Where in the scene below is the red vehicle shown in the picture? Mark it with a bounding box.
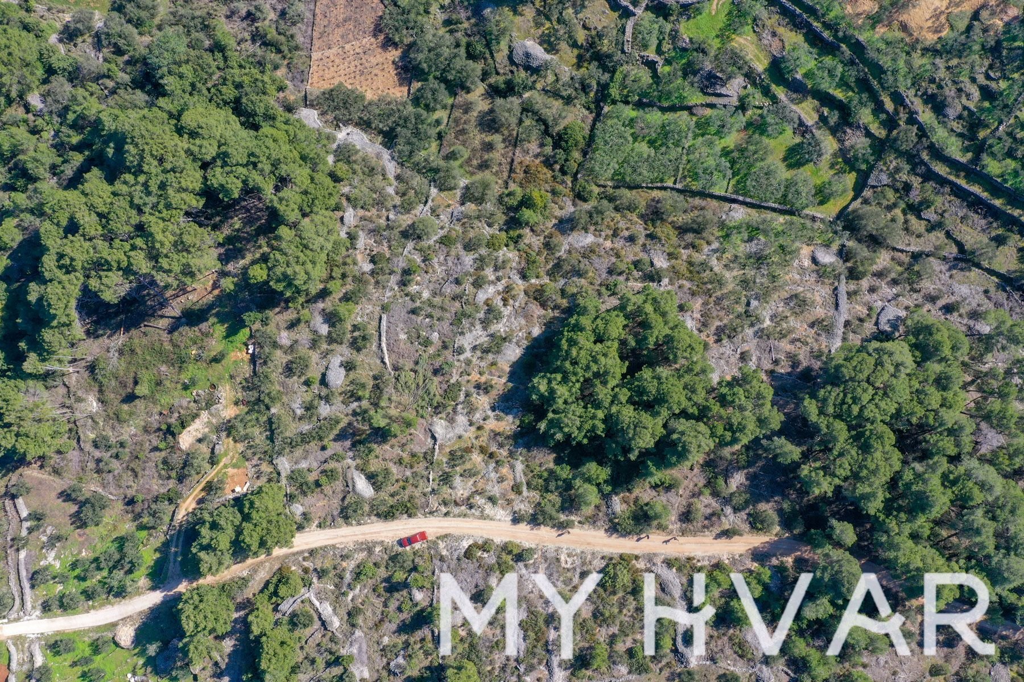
[400,532,428,549]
